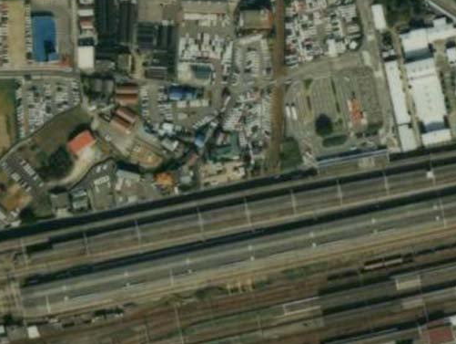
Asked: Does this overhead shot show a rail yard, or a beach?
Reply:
rail yard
